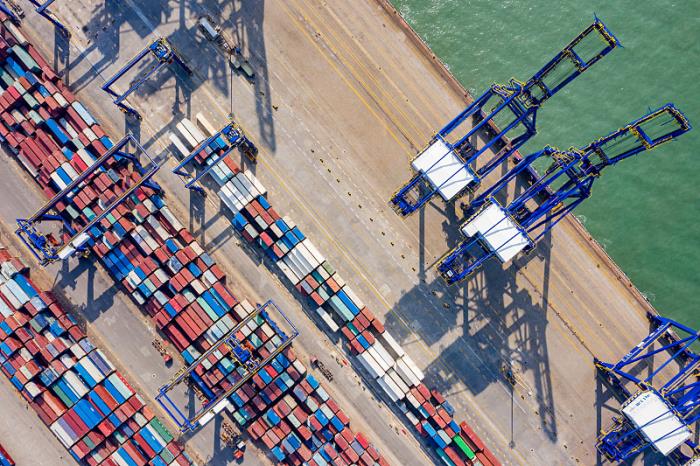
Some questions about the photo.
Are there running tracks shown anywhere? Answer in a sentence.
No, no running track is visible in the view.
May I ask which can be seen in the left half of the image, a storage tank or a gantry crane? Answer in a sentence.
You can see a gantry crane in the left half of the image.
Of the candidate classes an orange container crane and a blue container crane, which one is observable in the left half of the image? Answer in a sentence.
There is a blue container crane in the left half of the image.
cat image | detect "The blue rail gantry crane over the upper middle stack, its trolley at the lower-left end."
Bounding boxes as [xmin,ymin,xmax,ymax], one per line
[14,133,164,267]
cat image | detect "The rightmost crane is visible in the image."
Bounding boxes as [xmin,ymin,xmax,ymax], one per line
[590,308,700,466]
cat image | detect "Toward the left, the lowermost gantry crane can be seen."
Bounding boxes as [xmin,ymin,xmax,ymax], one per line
[154,299,300,434]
